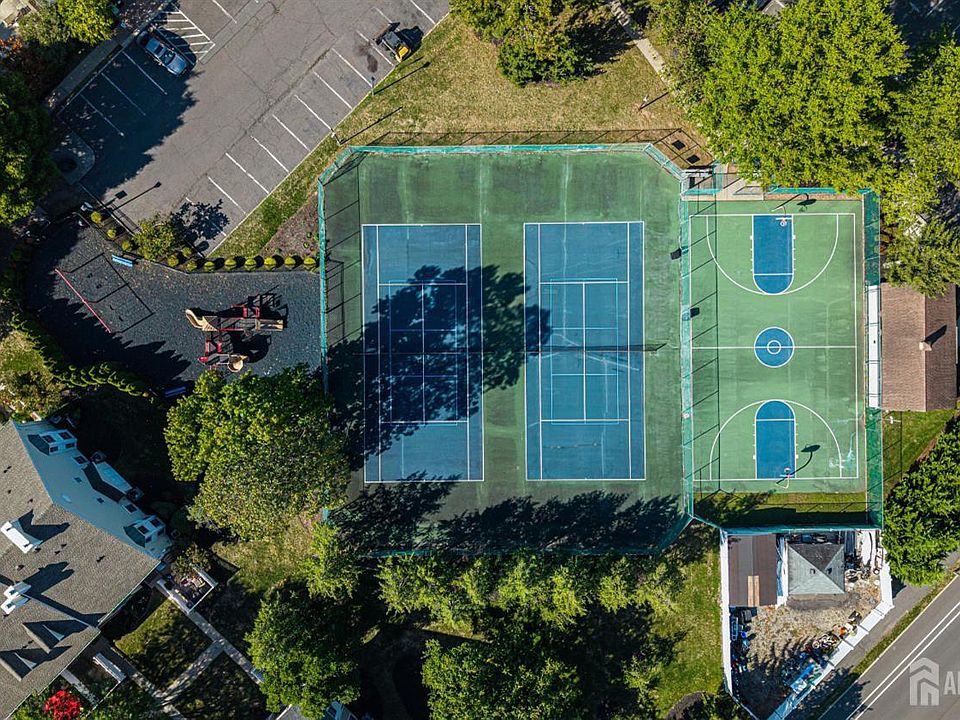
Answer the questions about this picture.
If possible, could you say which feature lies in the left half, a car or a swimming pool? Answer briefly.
car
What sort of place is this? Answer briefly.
sports ground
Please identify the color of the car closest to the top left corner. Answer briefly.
blue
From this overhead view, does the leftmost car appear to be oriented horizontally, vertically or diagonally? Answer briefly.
diagonally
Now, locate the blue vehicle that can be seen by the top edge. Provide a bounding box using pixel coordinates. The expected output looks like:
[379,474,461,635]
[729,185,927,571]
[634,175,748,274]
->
[133,24,186,71]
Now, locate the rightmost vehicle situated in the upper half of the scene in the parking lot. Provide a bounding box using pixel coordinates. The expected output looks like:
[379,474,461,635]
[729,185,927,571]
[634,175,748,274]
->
[370,19,411,57]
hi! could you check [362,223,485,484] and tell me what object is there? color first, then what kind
blue tennis court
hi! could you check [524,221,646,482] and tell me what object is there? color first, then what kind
blue tennis court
